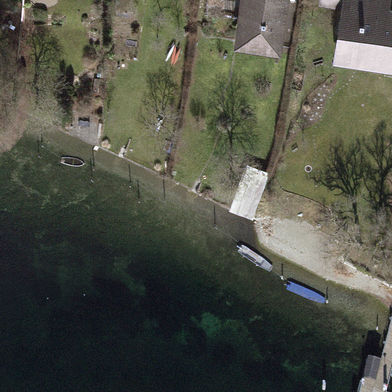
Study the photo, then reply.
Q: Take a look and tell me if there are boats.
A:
Yes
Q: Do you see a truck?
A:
No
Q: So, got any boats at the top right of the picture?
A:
No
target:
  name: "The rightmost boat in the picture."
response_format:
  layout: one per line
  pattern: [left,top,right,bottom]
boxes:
[284,280,327,304]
